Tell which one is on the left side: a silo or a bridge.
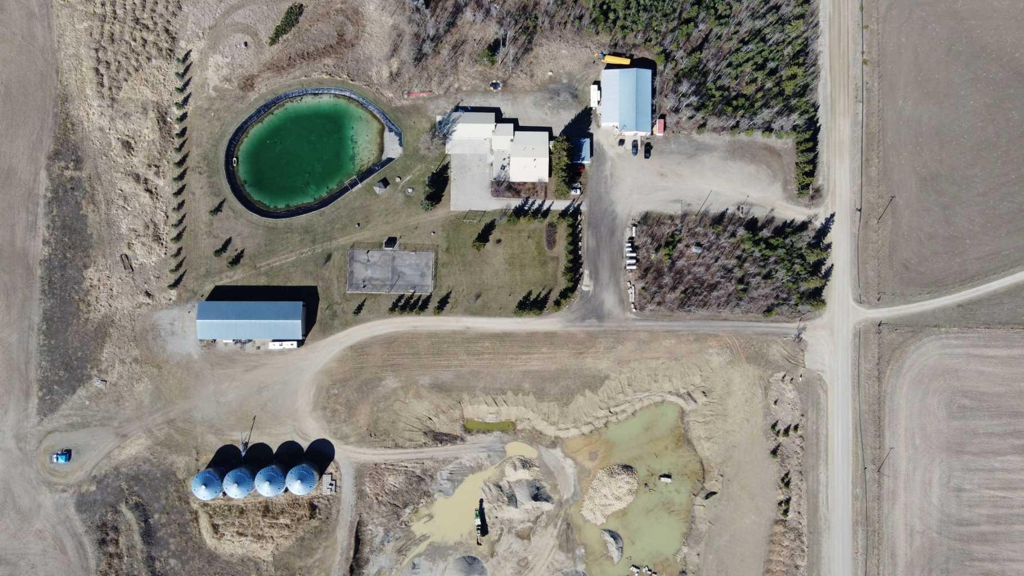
silo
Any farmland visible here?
Yes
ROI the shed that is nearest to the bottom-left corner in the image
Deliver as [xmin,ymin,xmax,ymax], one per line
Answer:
[194,301,306,339]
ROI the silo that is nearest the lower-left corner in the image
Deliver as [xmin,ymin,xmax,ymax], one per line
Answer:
[191,464,228,500]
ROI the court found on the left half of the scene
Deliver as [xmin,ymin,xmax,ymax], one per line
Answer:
[348,250,432,293]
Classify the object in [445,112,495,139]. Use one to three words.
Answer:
building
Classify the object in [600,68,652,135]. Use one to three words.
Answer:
building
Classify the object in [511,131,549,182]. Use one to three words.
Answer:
house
